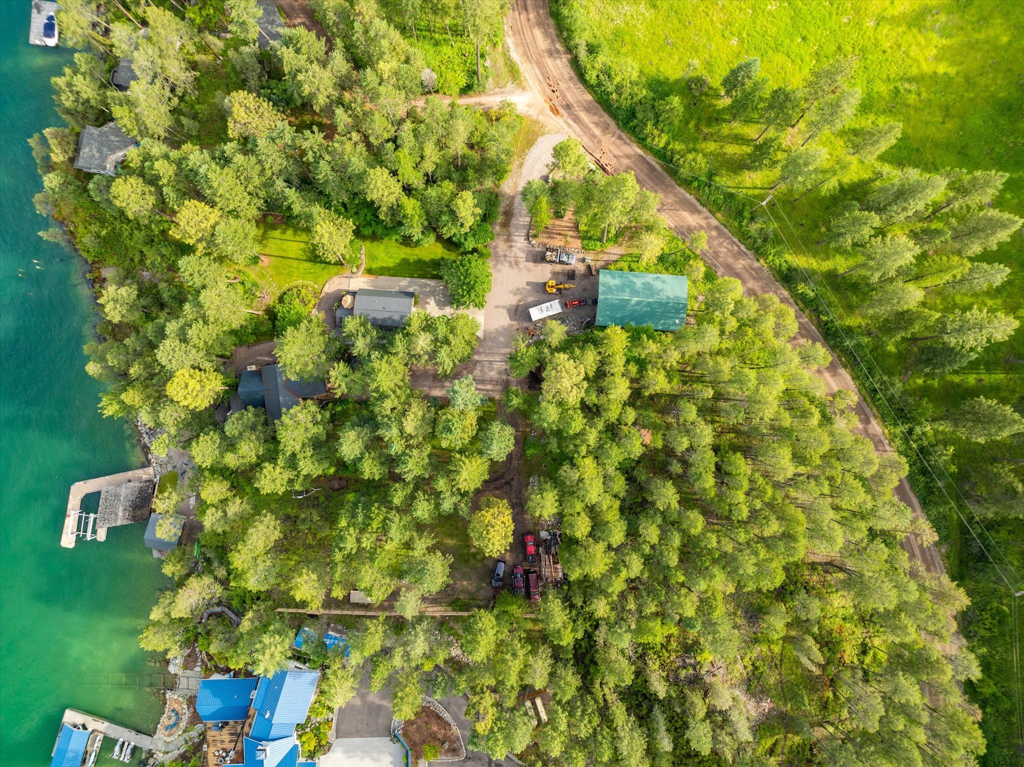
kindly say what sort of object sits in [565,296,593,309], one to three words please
vehicle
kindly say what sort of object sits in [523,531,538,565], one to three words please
vehicle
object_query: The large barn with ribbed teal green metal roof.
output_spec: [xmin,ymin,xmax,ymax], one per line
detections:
[595,270,688,332]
